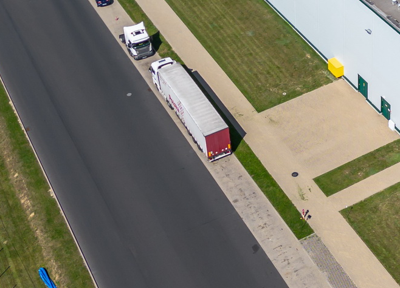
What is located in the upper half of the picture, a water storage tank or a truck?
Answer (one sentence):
Visible in the upper half of the picture is a truck.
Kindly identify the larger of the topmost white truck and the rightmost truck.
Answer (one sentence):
The rightmost truck is larger than the topmost white truck.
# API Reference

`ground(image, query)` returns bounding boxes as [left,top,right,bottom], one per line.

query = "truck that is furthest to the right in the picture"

[145,47,233,158]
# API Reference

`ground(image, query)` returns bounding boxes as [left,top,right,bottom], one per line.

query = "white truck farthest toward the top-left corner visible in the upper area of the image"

[119,15,154,57]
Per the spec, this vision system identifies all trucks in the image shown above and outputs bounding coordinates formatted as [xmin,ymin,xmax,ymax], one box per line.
[119,15,154,57]
[145,47,233,158]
